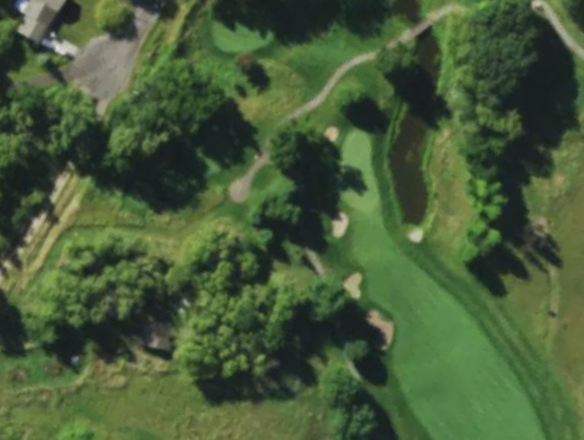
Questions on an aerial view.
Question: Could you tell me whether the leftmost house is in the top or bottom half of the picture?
top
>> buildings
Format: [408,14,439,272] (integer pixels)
[147,324,173,348]
[19,0,66,47]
